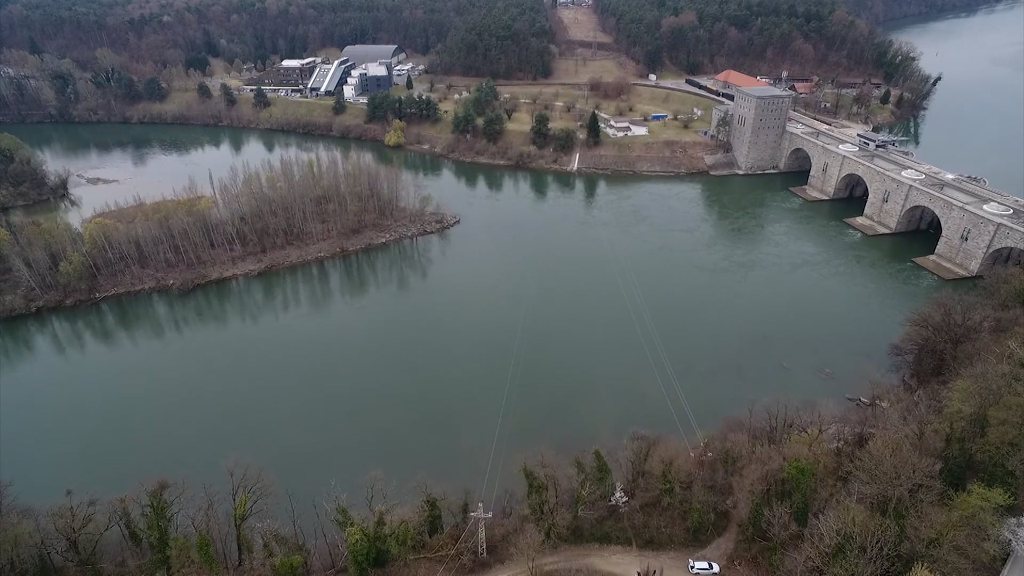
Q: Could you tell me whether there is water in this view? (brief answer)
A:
Yes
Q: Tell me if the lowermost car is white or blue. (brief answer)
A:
white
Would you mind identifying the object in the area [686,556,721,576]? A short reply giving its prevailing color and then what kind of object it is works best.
white car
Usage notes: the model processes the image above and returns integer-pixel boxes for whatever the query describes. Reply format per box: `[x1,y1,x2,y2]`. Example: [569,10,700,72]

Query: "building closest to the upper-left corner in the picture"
[226,58,326,98]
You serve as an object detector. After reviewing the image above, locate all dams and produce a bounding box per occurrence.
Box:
[782,108,1024,276]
